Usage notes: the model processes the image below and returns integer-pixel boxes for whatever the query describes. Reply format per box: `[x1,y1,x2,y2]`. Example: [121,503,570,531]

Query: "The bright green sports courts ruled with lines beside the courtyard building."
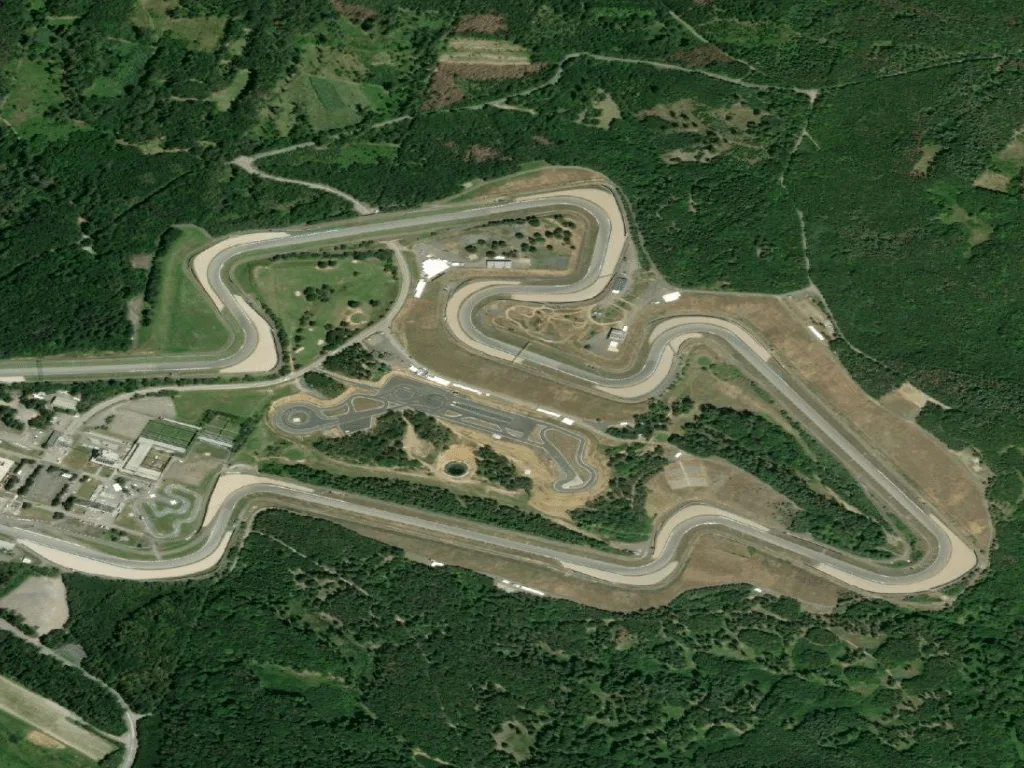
[142,418,197,449]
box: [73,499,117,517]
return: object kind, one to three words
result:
building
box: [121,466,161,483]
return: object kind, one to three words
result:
building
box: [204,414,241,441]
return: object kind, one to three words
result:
sports court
